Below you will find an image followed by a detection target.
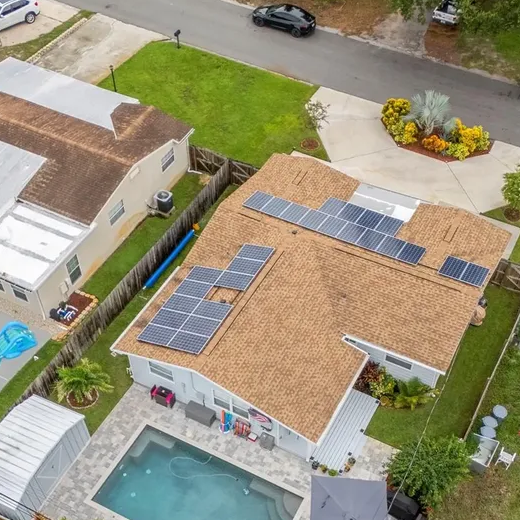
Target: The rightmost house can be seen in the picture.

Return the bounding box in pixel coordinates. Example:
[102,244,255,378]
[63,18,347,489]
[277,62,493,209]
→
[108,152,514,459]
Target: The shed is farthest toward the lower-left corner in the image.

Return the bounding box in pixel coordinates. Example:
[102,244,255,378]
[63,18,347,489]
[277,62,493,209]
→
[0,390,91,520]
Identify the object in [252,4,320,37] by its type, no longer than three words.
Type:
car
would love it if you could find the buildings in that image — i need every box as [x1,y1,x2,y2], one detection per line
[0,390,91,520]
[108,152,514,459]
[0,51,197,321]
